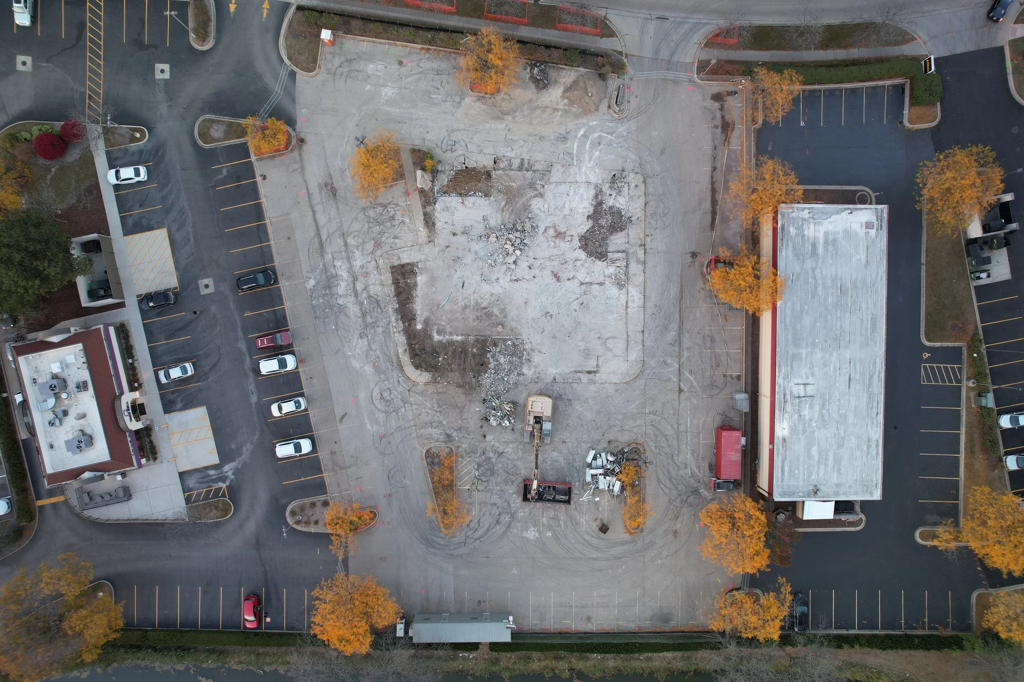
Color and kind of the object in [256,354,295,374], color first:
white car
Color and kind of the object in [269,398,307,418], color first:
white car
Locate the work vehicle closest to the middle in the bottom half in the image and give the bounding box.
[524,400,552,504]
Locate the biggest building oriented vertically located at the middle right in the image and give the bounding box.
[753,201,889,501]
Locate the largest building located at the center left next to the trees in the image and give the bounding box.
[15,325,149,485]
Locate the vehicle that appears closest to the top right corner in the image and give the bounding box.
[987,0,1014,24]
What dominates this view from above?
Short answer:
paved ground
